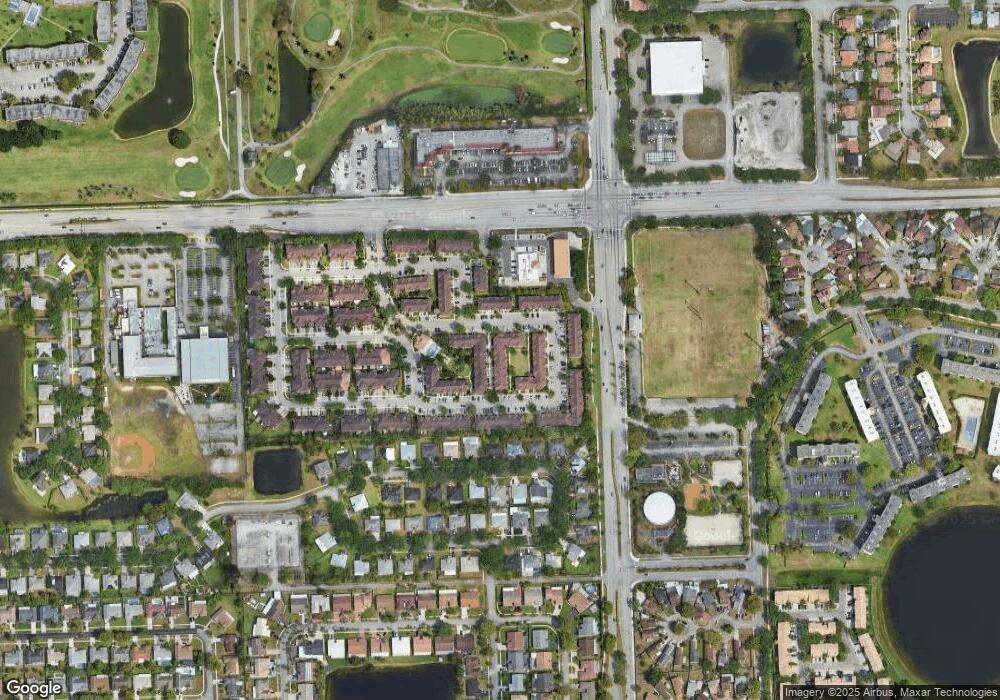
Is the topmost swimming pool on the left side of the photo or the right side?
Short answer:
left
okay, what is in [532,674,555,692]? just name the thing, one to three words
house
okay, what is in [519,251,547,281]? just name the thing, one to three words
building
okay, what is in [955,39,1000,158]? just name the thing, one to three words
pond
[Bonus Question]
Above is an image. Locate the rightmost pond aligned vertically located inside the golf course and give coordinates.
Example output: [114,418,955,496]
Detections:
[278,35,312,131]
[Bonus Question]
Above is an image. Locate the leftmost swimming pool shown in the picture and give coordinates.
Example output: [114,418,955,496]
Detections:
[22,4,42,27]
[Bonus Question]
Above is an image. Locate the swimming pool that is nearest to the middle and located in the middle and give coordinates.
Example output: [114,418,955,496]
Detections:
[422,340,439,358]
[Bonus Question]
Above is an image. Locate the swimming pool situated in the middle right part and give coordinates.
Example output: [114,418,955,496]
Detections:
[953,396,985,449]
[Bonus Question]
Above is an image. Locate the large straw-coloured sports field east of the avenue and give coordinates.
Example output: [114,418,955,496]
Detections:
[634,225,765,399]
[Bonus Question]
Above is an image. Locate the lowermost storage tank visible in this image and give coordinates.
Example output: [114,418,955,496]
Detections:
[644,492,677,524]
